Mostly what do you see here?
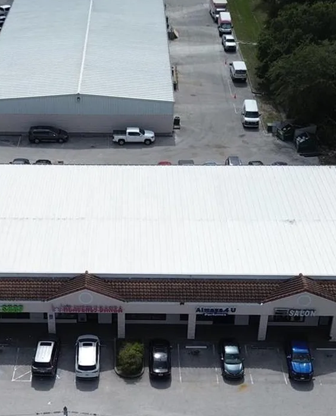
buildings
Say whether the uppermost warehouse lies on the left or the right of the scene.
left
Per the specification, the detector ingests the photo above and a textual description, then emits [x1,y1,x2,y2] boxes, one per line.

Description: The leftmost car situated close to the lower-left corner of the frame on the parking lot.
[31,338,60,383]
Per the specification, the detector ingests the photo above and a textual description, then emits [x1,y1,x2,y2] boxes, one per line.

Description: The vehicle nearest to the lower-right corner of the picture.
[284,338,316,385]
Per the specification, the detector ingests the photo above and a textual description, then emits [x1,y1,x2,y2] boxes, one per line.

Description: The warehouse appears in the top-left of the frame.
[0,0,177,136]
